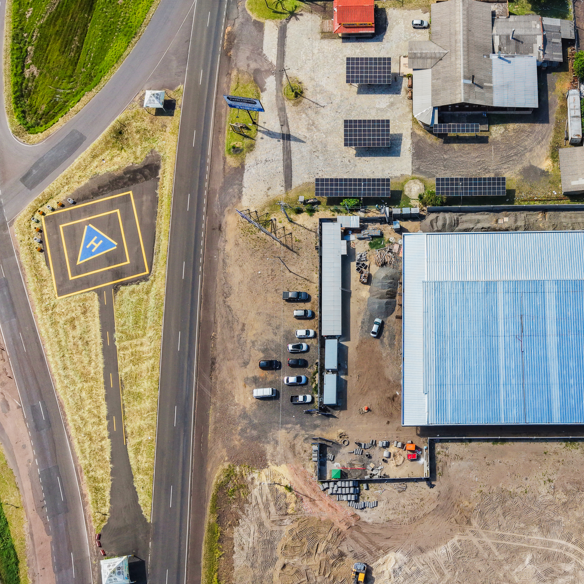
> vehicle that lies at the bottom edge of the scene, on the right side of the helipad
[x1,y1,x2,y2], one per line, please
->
[350,557,369,584]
